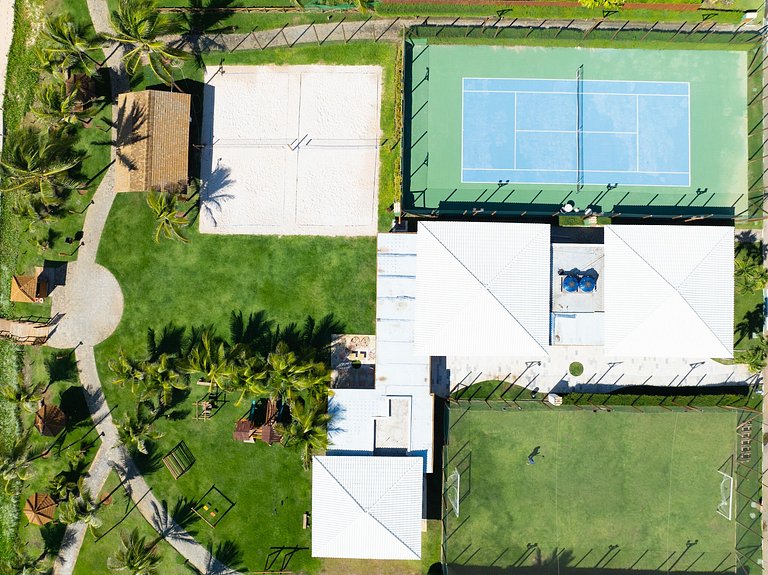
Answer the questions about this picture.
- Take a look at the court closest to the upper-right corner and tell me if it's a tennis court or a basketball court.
tennis court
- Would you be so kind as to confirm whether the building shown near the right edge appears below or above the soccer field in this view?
above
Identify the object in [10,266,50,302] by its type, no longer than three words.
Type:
shed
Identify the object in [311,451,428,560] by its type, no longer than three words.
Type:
building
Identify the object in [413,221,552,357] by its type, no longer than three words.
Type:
building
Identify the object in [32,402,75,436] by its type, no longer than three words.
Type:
gazebo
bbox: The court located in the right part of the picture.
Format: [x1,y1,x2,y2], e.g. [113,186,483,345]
[404,39,748,218]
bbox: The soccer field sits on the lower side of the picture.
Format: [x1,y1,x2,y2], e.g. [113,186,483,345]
[442,399,736,575]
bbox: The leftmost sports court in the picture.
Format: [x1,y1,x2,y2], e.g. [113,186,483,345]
[200,65,382,236]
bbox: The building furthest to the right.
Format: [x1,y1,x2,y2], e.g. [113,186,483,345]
[597,225,735,358]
